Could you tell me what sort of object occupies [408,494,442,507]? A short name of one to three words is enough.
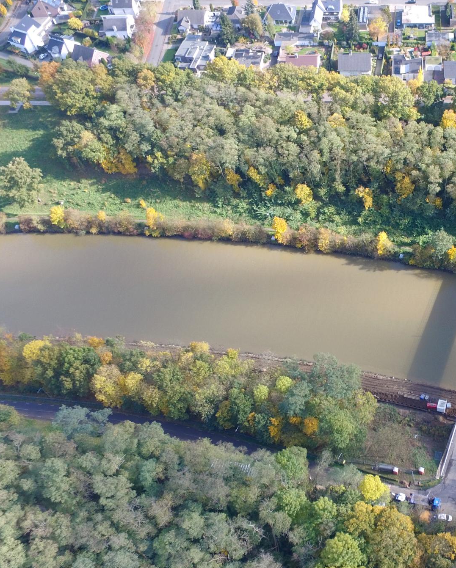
vehicle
